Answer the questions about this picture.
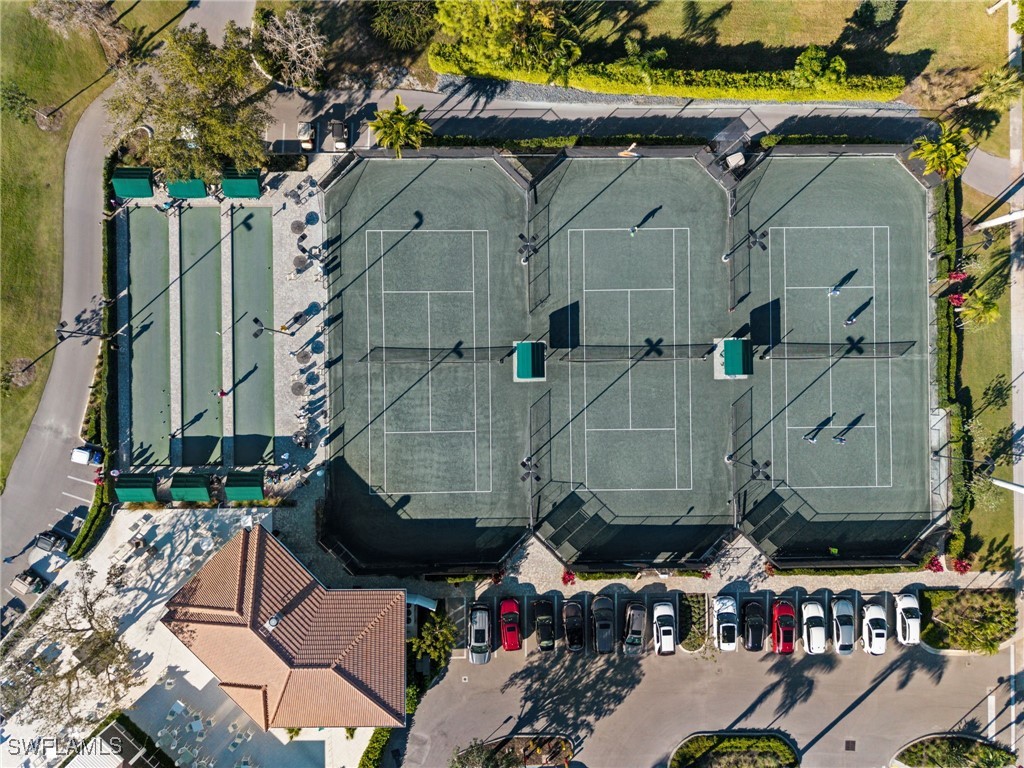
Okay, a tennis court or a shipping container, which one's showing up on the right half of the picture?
tennis court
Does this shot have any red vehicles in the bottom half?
Yes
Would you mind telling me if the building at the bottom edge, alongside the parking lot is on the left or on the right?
left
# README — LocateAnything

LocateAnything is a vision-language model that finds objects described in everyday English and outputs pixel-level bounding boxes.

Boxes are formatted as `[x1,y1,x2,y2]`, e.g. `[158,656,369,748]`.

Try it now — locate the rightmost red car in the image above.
[770,599,797,654]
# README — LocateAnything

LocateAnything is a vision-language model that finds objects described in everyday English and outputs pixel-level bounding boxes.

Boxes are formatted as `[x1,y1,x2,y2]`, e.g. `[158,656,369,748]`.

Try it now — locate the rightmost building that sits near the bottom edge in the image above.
[158,523,408,733]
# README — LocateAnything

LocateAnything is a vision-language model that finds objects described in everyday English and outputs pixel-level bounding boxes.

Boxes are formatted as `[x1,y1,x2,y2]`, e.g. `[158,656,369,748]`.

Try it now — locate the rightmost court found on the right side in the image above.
[730,158,931,558]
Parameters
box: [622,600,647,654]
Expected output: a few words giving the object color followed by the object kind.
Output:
gray car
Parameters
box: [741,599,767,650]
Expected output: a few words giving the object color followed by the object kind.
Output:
black car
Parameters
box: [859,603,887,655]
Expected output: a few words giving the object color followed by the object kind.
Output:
white car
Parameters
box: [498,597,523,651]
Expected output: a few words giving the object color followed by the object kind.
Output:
red car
